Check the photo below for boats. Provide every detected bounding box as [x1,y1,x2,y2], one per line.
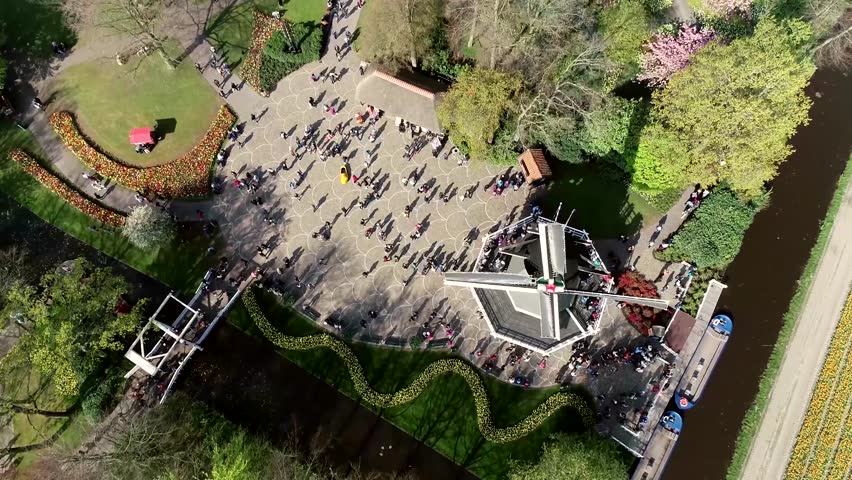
[627,406,683,480]
[662,309,733,413]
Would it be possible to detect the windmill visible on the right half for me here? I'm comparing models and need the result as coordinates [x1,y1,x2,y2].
[438,203,666,357]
